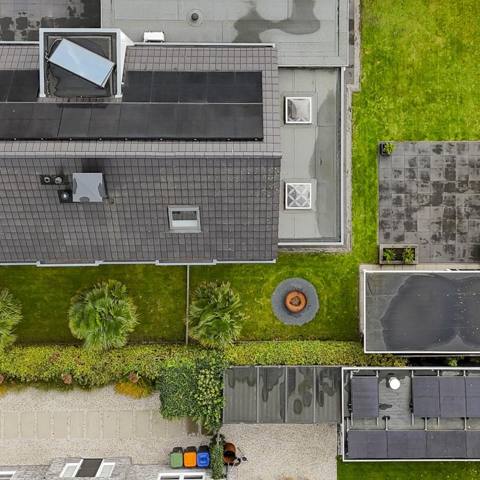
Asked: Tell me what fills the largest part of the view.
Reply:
buildings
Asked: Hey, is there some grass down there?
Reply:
Yes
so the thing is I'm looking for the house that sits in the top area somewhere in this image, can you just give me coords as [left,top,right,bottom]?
[0,0,349,268]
